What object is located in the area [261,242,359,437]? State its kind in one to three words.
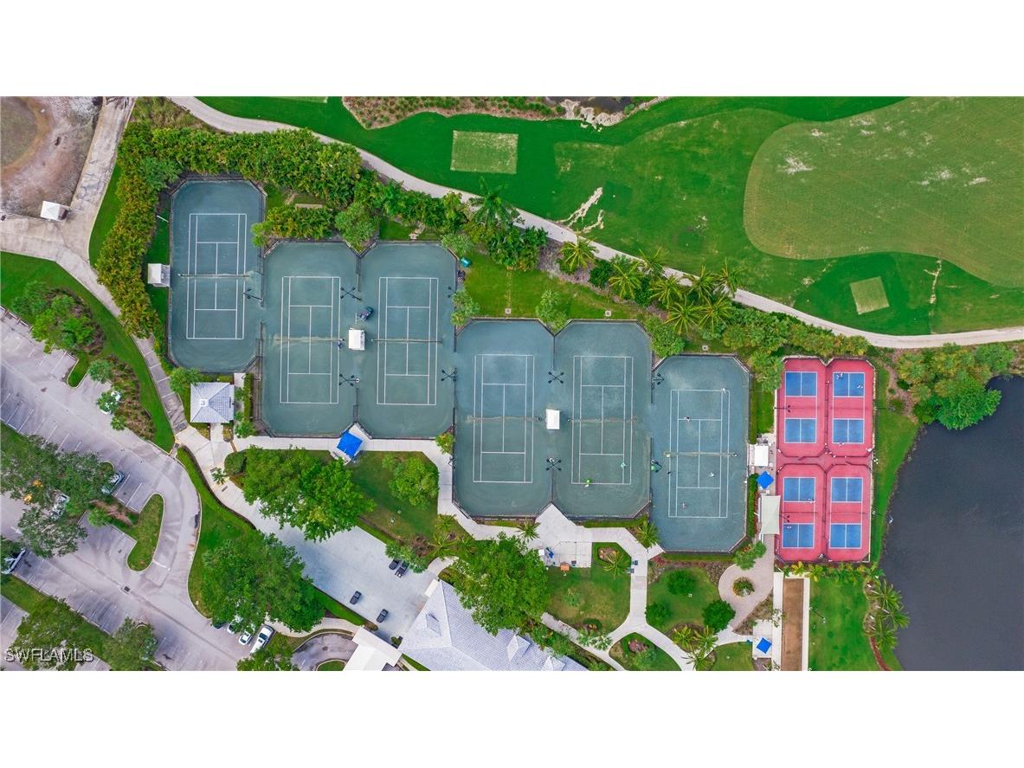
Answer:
tennis court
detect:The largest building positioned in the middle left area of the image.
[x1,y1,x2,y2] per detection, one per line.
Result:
[190,382,236,423]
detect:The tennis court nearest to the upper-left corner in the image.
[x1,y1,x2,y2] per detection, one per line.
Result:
[170,180,265,372]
